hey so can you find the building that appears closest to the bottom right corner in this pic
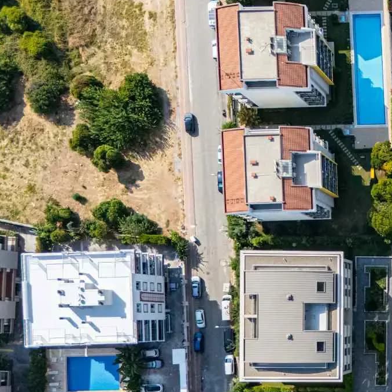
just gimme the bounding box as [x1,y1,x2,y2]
[239,251,355,382]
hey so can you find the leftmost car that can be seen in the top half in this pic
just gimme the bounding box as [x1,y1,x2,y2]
[183,112,197,134]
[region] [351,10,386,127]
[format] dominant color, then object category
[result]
blue swimming pool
